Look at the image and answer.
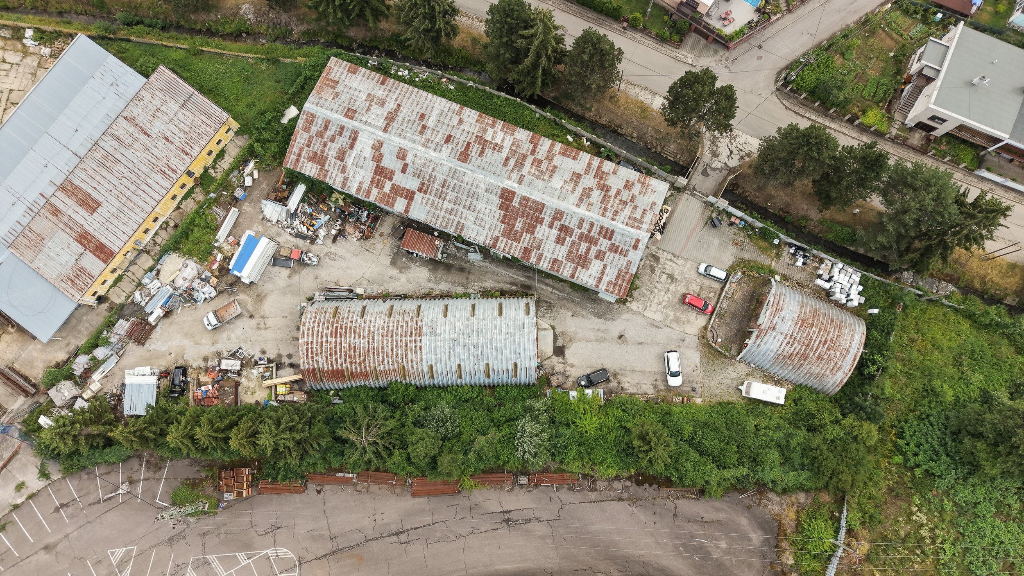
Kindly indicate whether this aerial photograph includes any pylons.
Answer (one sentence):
Yes, the photo shows a pylon.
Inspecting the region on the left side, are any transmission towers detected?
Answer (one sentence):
Yes, a transmission tower appears on the left side.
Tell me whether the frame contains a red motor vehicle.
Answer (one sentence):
Yes, there's a red motor vehicle down there.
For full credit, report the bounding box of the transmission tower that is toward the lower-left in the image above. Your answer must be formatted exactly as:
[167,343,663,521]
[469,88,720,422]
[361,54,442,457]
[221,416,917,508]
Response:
[157,497,216,540]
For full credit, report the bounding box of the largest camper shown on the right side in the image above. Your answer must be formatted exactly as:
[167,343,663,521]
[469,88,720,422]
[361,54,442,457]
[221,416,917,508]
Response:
[732,379,789,405]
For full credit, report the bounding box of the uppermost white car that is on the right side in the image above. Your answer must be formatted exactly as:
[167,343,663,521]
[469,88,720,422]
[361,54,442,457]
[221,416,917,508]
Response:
[694,261,733,285]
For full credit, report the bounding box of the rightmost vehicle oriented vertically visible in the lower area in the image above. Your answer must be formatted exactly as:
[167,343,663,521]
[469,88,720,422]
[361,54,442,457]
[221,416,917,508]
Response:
[664,349,683,387]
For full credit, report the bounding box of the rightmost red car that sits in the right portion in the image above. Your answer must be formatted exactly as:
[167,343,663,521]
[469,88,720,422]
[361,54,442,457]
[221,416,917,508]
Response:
[680,291,717,316]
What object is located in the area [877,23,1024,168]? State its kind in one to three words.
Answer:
house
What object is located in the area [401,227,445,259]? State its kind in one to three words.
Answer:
shed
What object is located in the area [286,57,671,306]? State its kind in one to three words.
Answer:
building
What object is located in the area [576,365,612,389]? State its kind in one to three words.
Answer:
car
